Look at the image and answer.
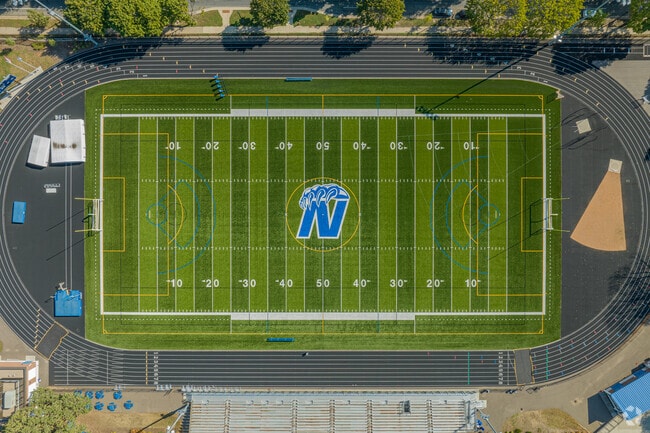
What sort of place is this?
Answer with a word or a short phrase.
sports ground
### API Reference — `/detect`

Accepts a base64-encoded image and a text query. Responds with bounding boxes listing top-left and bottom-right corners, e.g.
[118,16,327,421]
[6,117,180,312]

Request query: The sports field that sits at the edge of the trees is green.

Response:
[84,79,561,350]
